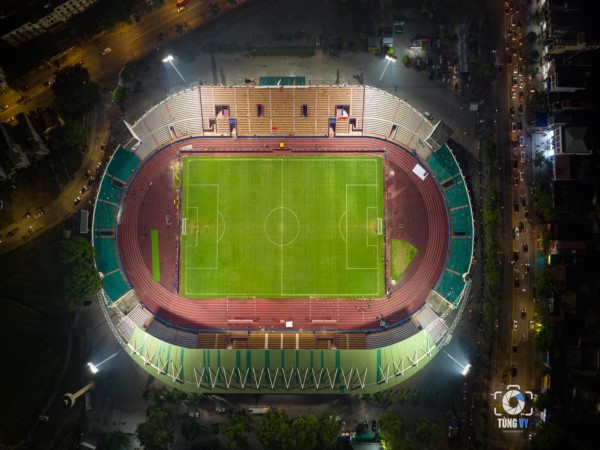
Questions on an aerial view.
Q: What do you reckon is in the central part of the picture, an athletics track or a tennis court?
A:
athletics track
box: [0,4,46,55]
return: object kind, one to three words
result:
building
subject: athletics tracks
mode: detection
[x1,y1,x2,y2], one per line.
[118,137,449,331]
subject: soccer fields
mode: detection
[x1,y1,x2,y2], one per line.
[183,154,385,299]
